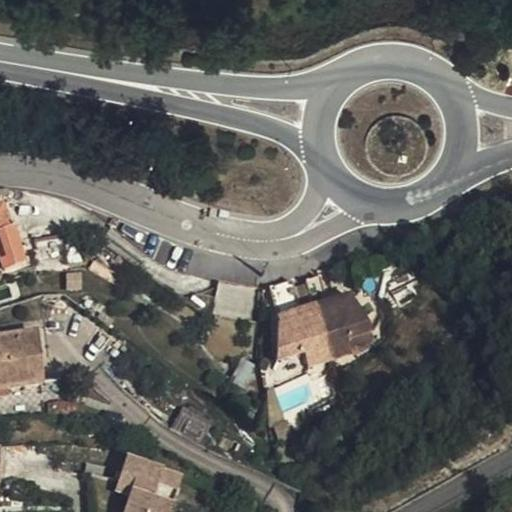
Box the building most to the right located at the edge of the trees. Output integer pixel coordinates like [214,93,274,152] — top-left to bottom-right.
[379,266,418,308]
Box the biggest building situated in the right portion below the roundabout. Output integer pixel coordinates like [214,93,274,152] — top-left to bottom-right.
[278,292,375,368]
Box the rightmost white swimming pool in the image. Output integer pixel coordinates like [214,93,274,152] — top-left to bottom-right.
[275,371,330,427]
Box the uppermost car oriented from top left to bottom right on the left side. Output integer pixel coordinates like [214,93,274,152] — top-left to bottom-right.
[120,224,144,242]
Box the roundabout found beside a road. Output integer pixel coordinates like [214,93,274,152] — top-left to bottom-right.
[297,40,510,226]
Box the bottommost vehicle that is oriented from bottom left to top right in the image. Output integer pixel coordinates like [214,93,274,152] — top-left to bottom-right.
[84,334,106,360]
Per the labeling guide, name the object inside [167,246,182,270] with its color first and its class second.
white car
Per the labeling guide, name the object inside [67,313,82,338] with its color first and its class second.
white car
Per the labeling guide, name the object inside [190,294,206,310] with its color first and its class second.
white vehicle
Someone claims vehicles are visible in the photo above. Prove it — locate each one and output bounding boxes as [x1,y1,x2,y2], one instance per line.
[167,246,182,270]
[84,334,106,360]
[178,248,194,270]
[18,205,40,216]
[146,233,158,255]
[120,224,144,242]
[190,294,206,310]
[44,320,60,330]
[67,313,82,338]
